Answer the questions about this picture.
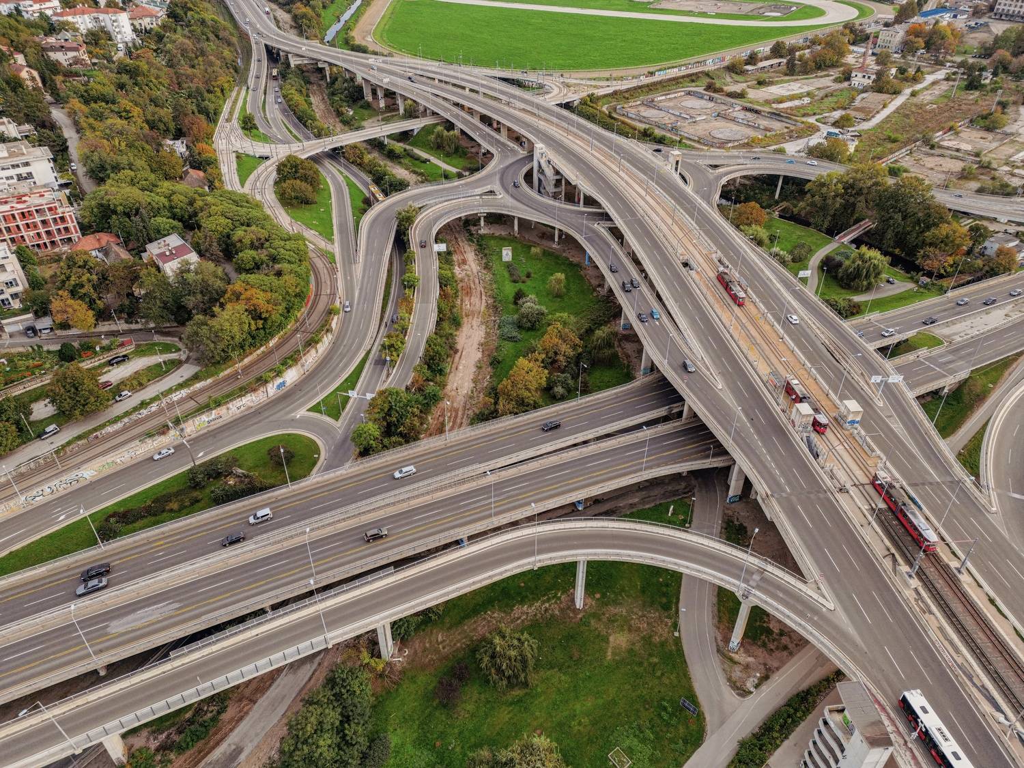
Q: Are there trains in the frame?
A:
Yes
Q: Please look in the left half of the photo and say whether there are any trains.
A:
No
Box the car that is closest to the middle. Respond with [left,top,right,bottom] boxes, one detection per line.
[540,417,563,432]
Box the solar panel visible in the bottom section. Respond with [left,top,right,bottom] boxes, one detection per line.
[675,694,703,717]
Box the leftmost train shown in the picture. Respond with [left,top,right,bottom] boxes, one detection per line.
[718,265,748,303]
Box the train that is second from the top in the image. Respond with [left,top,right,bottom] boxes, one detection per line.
[786,374,829,431]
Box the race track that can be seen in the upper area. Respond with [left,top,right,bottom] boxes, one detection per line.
[352,0,894,76]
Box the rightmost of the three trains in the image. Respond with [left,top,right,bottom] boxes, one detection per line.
[873,468,939,550]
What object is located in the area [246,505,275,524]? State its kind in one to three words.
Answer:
vehicle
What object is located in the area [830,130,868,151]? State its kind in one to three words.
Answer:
house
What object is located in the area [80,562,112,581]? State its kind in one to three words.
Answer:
car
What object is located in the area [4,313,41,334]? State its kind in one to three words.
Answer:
house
